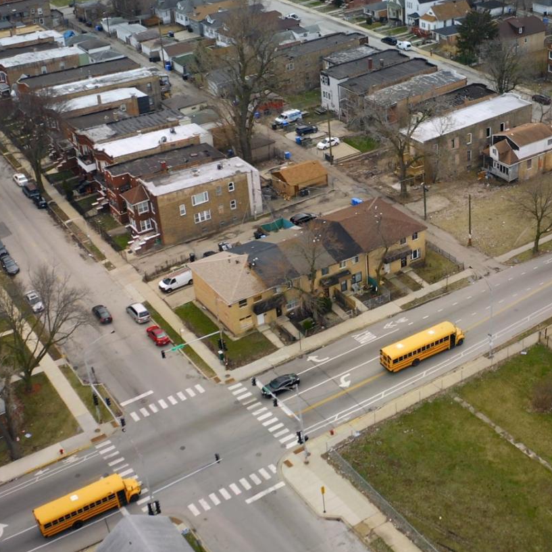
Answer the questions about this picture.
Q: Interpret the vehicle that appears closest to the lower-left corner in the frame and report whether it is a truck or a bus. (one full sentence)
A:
The vehicle that appears closest to the lower-left corner can be classified as a bus.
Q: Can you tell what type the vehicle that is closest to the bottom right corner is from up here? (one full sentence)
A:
I'd say the vehicle that is closest to the bottom right corner is a bus.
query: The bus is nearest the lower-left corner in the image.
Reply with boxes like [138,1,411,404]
[31,472,148,544]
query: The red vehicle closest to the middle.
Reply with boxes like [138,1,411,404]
[144,321,170,344]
